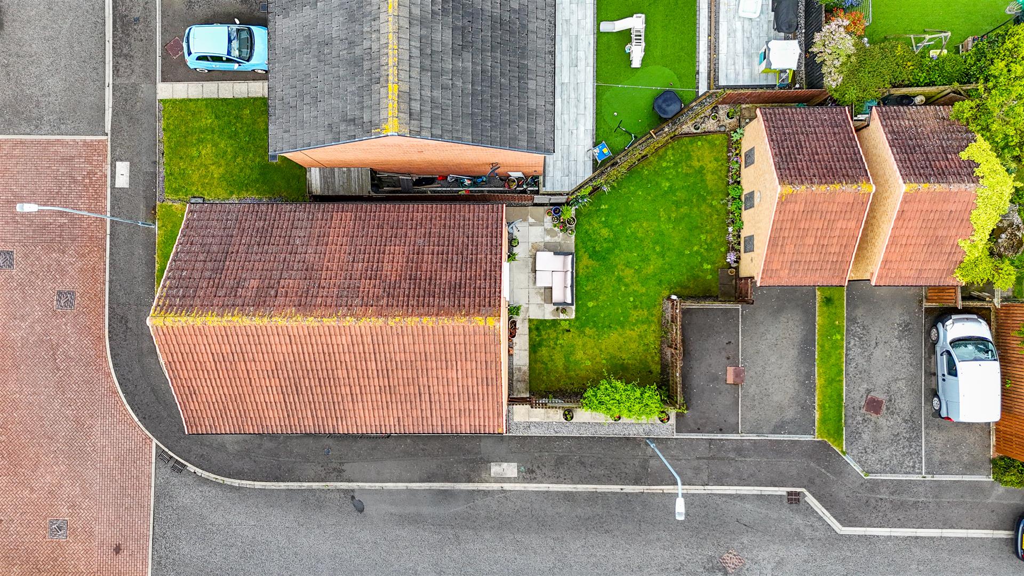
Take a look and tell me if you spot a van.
Yes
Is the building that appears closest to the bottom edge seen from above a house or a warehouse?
house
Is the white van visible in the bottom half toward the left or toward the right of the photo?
right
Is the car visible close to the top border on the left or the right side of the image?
left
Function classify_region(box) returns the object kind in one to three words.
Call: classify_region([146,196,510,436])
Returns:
house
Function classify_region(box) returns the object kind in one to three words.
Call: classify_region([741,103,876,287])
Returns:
building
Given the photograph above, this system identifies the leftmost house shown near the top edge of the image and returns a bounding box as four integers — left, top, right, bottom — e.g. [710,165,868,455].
[266,0,558,175]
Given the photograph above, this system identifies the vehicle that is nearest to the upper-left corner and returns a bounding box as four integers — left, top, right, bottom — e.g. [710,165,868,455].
[180,19,266,78]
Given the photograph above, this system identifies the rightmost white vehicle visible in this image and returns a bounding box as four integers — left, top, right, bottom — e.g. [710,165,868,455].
[925,309,1001,424]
